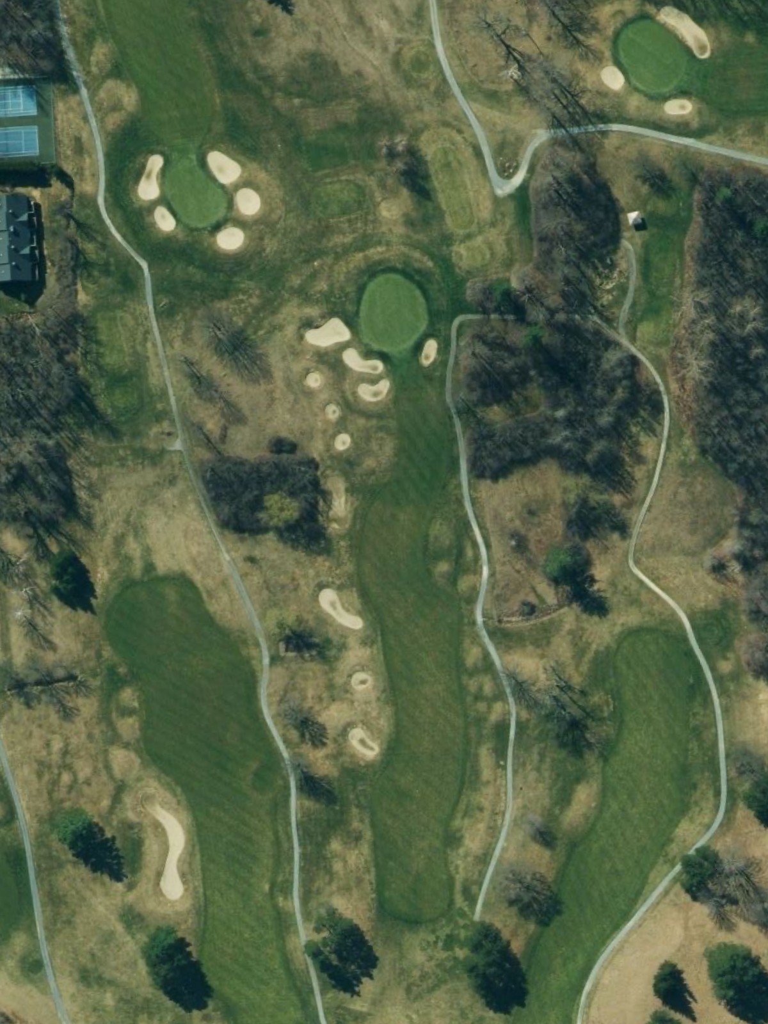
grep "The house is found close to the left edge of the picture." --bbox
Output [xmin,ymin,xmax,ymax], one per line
[0,191,38,280]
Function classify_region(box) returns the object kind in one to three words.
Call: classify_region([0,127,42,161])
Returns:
tennis court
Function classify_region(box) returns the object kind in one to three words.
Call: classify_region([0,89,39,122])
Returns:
tennis court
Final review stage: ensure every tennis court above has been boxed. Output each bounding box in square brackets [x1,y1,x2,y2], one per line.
[0,89,39,122]
[0,127,42,161]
